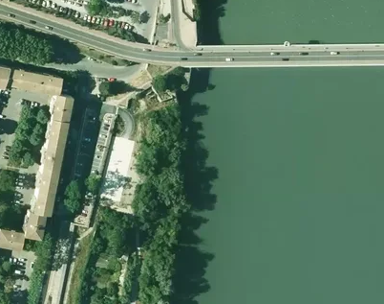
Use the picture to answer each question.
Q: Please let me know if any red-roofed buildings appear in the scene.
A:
No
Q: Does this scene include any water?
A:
Yes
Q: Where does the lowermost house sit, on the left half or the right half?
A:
left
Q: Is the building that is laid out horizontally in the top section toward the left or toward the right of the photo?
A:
left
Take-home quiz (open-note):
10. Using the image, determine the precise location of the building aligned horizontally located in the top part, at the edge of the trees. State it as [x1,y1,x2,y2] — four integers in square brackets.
[10,70,63,96]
